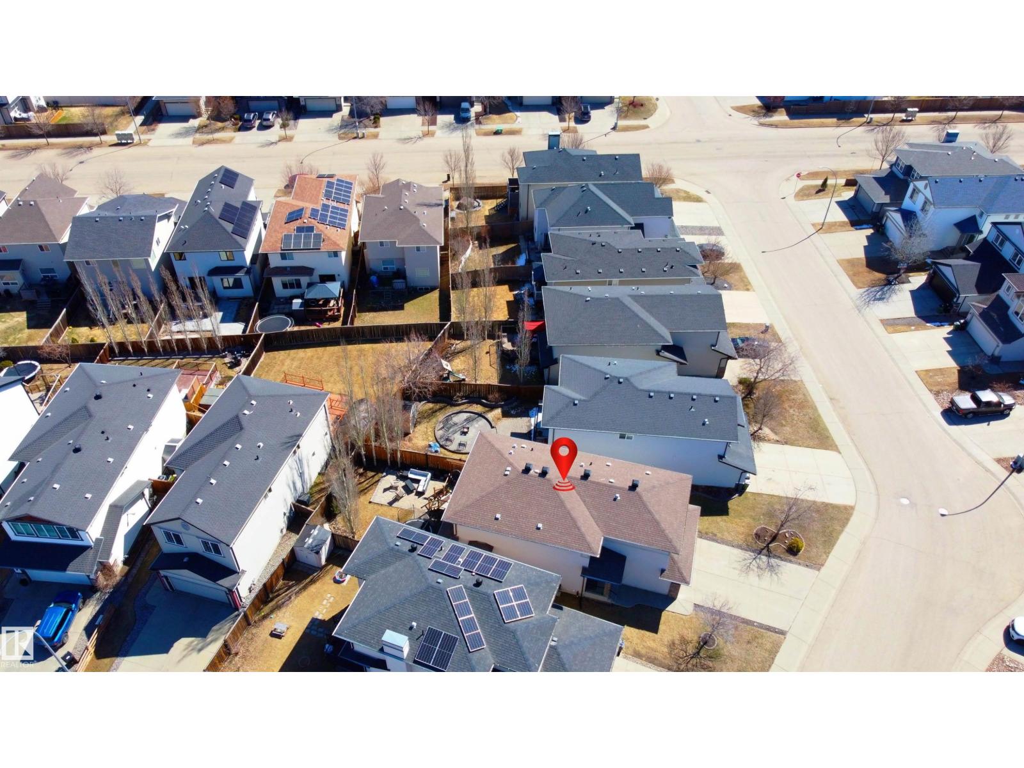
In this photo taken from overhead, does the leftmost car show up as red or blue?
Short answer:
blue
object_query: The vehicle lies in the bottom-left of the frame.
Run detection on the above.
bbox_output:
[25,585,85,652]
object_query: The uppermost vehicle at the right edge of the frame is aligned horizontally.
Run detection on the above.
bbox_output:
[948,387,1021,419]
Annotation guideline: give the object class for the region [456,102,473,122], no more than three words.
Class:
vehicle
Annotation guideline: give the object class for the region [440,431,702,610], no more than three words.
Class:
house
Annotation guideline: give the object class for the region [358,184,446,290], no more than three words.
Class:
house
